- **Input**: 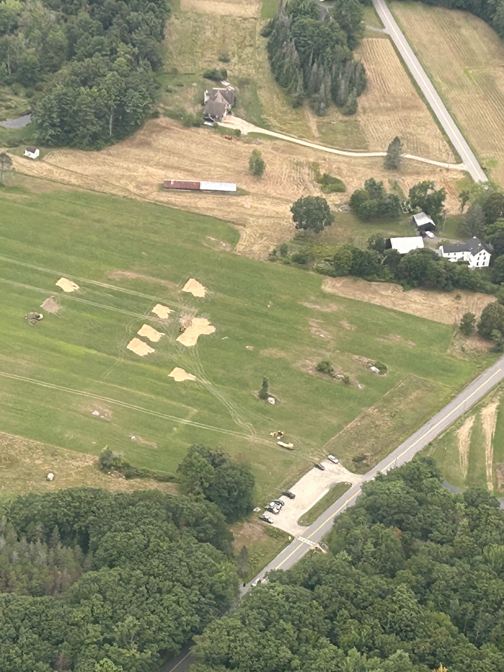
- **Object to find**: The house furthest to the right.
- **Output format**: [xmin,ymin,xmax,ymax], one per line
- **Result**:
[442,236,491,270]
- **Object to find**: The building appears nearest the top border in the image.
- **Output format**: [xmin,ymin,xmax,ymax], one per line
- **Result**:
[200,89,234,121]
